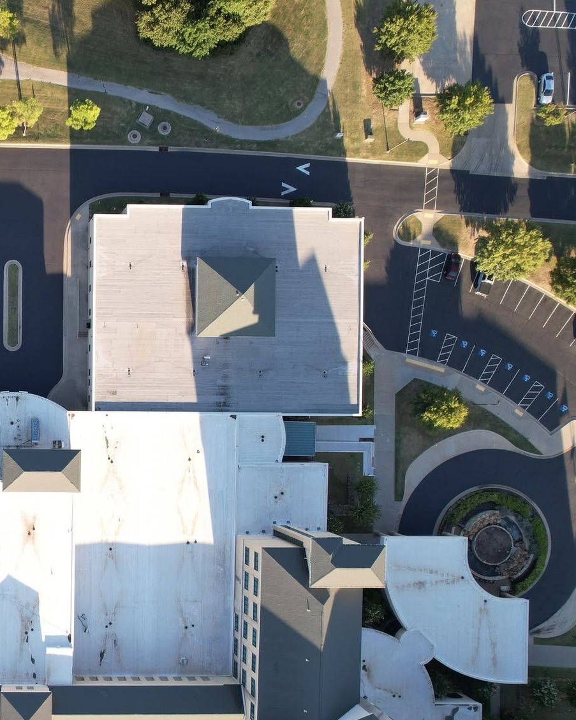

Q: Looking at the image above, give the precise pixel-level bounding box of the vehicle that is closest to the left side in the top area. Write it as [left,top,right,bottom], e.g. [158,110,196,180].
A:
[442,252,461,282]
